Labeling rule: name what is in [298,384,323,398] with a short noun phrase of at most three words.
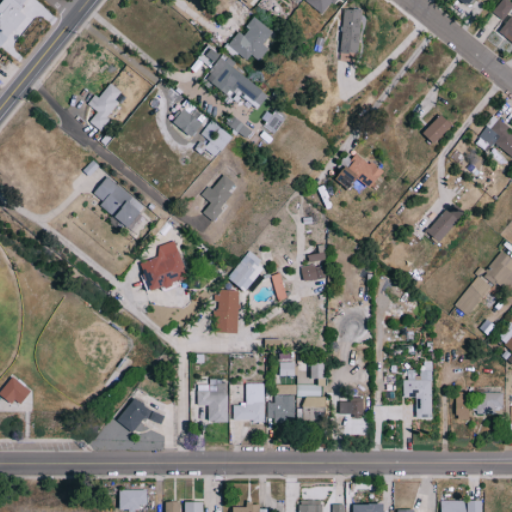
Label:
building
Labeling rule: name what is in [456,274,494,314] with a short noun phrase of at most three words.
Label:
barn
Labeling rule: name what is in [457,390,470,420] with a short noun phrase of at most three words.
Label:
house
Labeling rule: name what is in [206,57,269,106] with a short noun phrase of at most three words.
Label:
house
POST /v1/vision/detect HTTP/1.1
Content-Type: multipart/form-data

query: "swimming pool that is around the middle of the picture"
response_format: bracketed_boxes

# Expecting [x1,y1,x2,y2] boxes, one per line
[252,286,274,302]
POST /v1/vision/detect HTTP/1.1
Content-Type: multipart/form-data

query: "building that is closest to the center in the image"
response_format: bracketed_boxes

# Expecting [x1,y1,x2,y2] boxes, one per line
[228,250,265,290]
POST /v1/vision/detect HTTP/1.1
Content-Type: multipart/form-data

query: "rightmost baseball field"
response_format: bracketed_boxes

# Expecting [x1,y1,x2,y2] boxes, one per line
[34,297,131,406]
